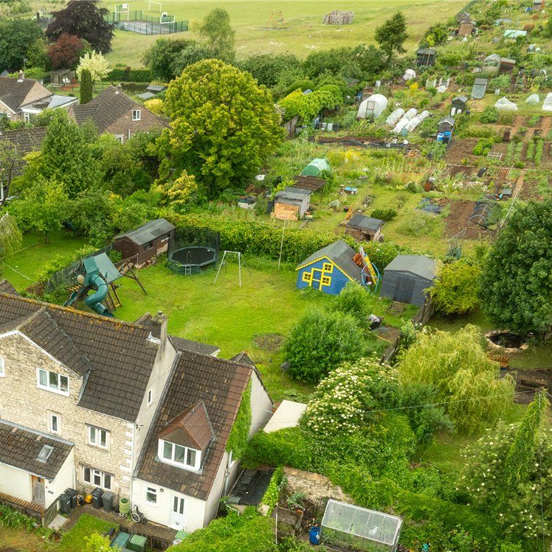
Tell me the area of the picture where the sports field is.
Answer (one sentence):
The sports field appears toward the top of the photo.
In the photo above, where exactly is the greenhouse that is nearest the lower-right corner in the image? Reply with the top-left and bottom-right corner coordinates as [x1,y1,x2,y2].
[324,497,408,552]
